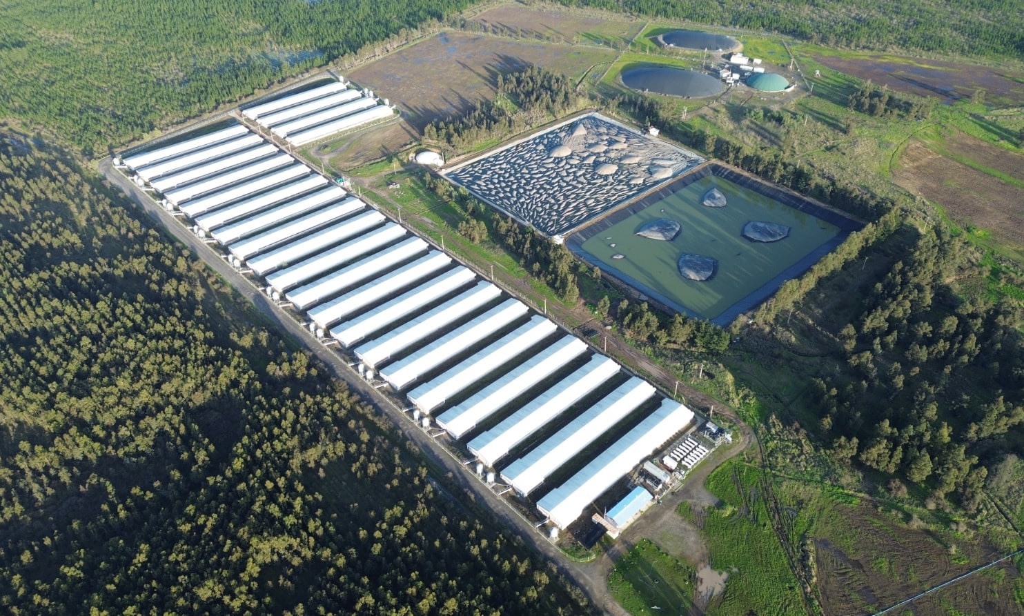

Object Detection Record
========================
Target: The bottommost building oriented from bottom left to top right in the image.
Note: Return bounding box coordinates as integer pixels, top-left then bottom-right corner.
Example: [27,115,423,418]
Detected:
[605,485,653,530]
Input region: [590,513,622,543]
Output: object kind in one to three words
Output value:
building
